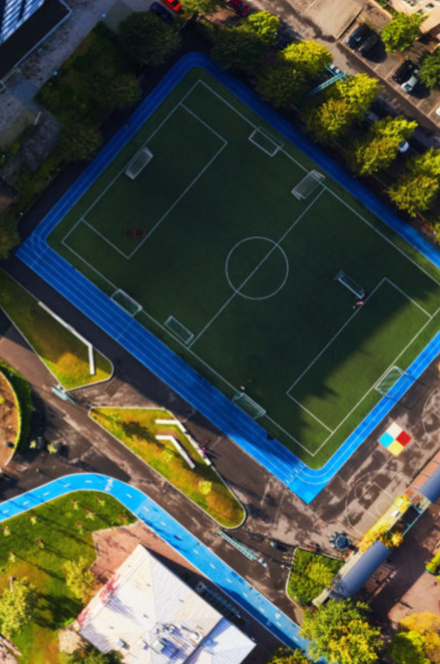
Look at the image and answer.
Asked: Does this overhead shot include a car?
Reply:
Yes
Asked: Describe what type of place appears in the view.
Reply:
sports ground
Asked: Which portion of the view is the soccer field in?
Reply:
center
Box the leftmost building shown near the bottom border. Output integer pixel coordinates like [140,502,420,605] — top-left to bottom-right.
[78,546,256,664]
